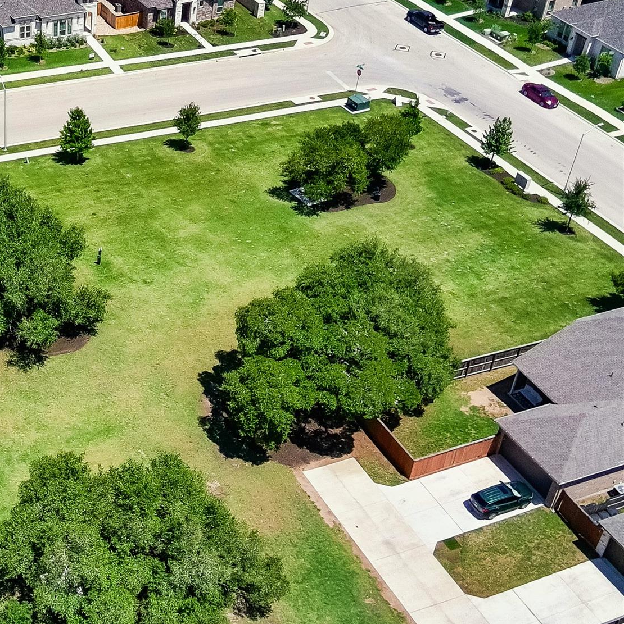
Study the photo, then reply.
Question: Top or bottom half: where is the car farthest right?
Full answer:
The top half of the photo is where the car farthest right is.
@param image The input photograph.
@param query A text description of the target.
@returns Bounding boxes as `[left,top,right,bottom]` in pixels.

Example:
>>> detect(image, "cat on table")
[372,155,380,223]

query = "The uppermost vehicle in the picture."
[403,6,446,33]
